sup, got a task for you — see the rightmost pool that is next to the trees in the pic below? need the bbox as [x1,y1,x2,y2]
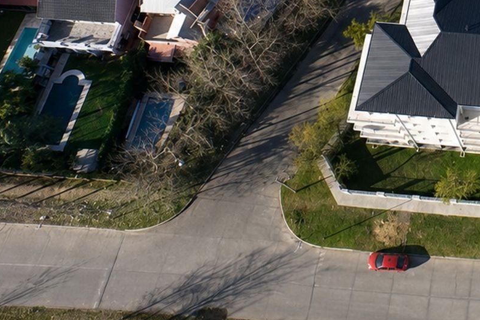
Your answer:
[125,94,177,149]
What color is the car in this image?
red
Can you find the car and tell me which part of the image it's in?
bottom right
